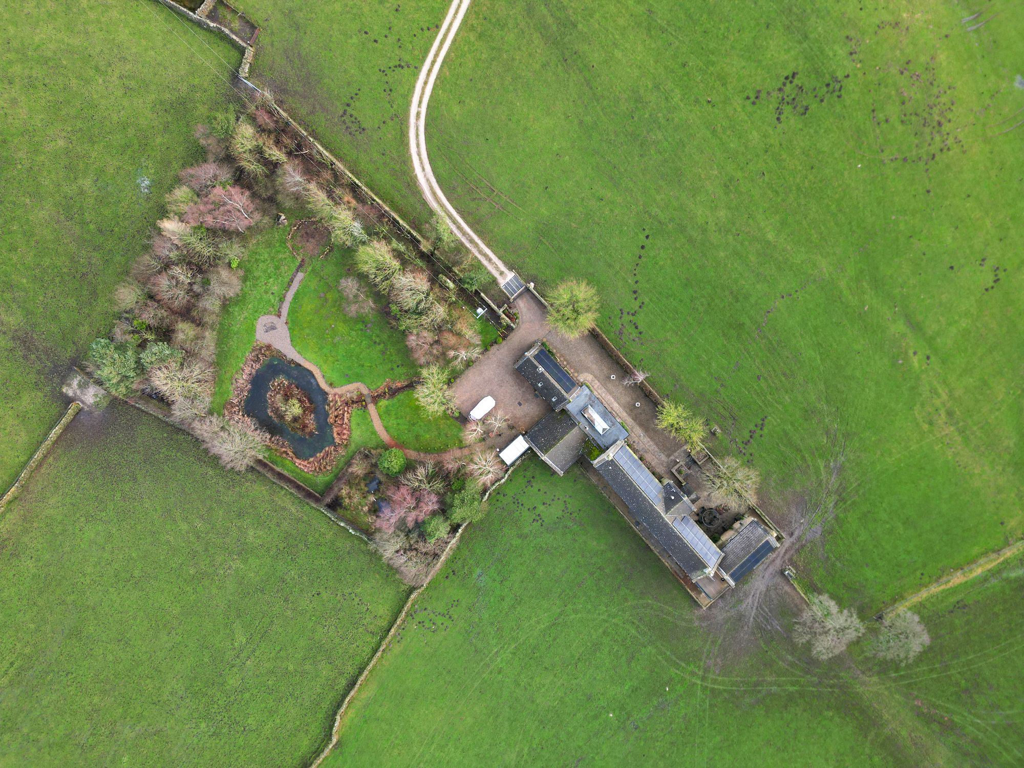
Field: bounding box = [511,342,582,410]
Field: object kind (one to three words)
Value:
house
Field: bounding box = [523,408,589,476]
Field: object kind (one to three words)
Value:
barn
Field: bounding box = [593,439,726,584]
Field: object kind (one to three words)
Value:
house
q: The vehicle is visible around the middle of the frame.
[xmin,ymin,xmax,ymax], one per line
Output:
[467,394,497,422]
